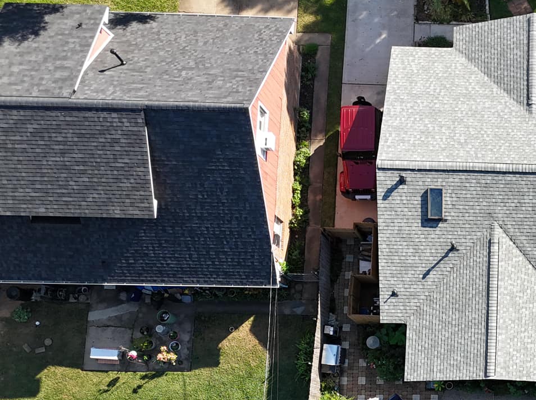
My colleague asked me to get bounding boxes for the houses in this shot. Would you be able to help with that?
[0,7,305,289]
[375,16,536,381]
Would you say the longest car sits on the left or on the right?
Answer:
right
